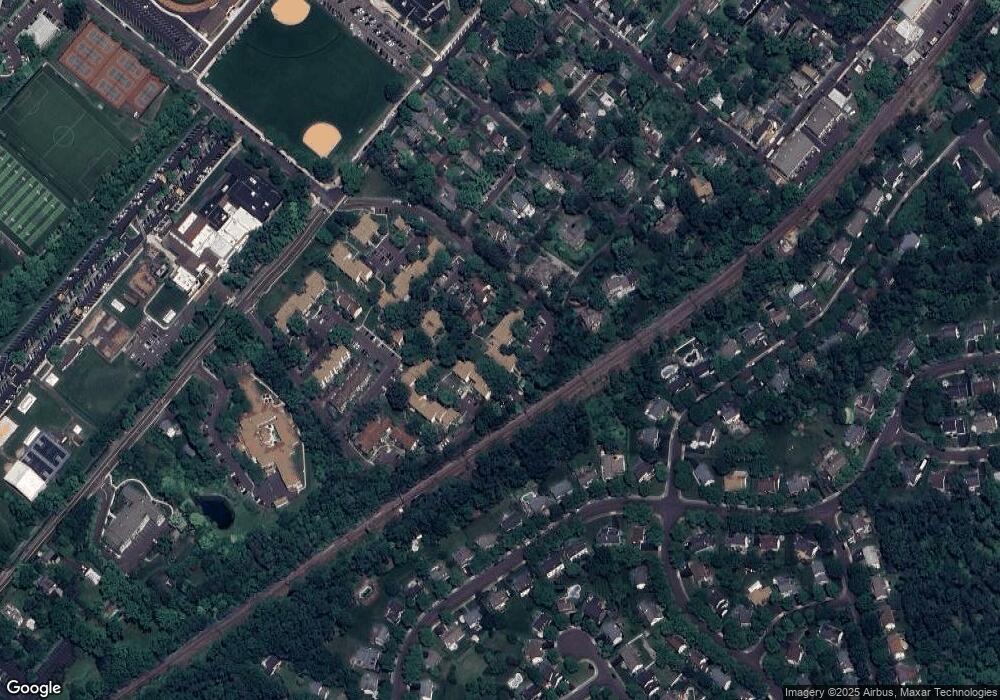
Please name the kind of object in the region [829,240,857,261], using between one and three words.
house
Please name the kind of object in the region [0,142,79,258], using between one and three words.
sports field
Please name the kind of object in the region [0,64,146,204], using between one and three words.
soccer field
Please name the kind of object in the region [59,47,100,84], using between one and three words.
tennis court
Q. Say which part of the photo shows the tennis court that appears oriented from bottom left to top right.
top left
